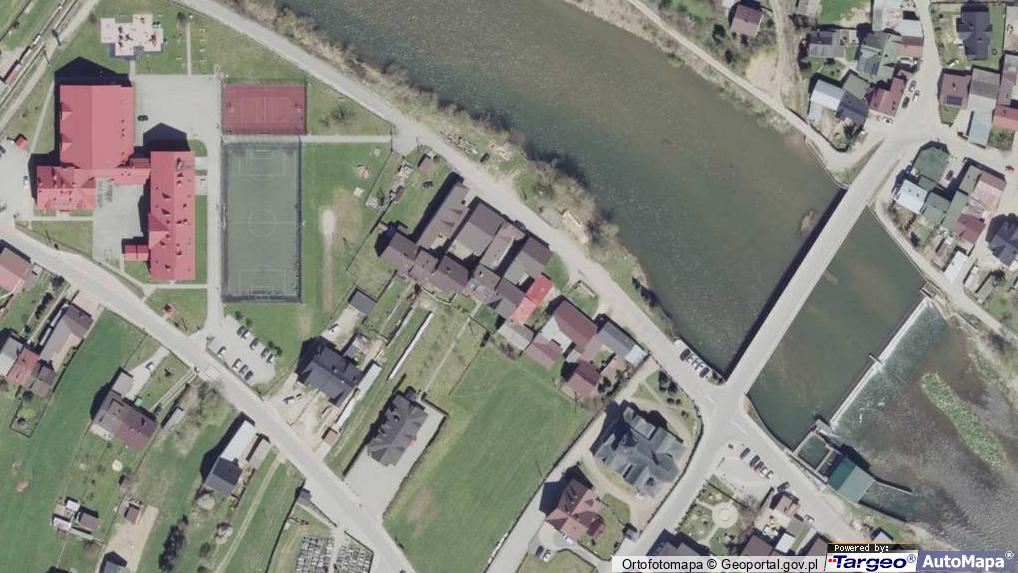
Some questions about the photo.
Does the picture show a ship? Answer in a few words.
No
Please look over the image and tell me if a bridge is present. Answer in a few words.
Yes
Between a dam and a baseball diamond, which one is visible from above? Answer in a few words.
dam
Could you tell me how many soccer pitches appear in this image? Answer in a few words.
1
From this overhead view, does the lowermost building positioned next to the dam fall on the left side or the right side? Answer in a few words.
right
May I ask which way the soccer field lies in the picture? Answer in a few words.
from top to bottom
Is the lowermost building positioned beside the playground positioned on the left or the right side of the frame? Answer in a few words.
left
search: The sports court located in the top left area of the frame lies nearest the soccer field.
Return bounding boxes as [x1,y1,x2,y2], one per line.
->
[222,84,306,134]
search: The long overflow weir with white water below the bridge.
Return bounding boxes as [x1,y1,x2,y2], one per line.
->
[813,285,936,440]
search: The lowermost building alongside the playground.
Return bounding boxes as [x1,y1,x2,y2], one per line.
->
[36,85,196,280]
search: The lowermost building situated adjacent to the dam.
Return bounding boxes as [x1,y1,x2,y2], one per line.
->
[827,455,876,502]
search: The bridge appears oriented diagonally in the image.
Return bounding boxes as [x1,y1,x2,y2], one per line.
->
[724,185,869,397]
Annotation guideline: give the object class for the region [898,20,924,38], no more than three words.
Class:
building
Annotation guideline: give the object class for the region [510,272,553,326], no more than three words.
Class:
house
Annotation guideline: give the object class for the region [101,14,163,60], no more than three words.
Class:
playground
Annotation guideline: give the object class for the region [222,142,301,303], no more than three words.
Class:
soccer field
